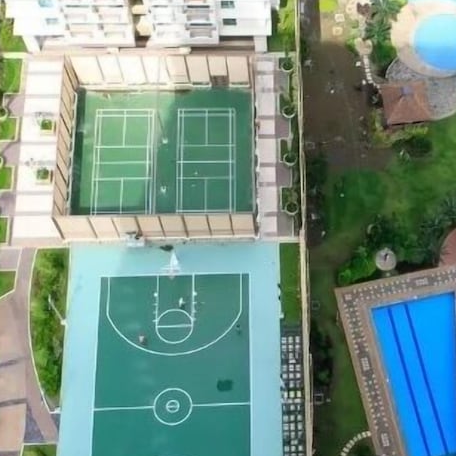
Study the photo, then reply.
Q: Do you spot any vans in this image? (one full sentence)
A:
No, I find no van anywhere in the image.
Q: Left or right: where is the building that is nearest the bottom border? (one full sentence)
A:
The building that is nearest the bottom border is on the right side of the image.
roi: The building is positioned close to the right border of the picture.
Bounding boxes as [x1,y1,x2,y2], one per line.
[381,78,435,132]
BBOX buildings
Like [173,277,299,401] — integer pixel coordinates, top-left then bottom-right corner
[381,78,435,132]
[0,0,274,51]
